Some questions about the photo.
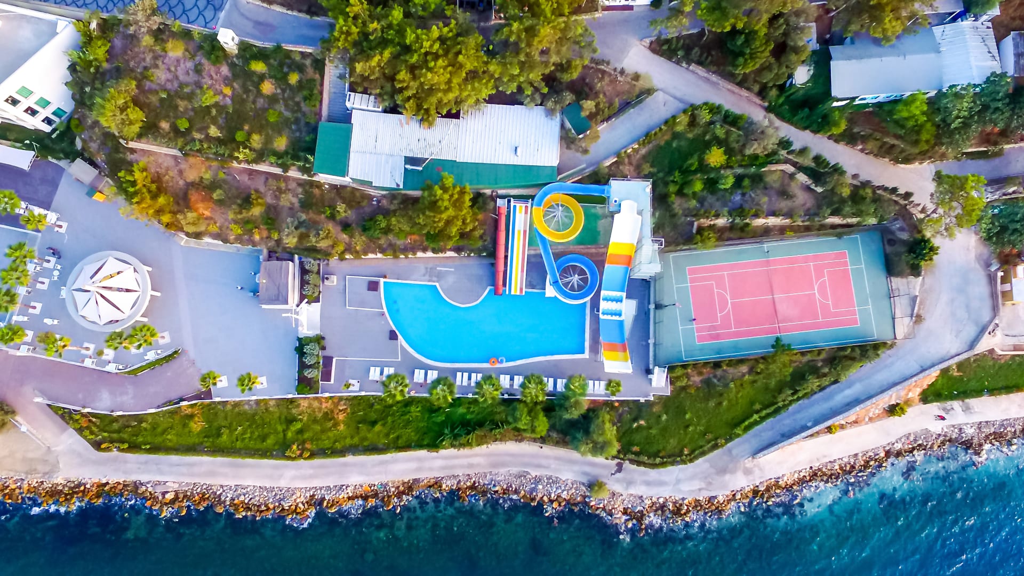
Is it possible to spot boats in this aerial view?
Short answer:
No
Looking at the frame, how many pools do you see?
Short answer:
1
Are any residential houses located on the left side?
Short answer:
Yes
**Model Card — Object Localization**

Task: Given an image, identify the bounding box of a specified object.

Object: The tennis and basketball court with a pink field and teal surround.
[657,231,894,366]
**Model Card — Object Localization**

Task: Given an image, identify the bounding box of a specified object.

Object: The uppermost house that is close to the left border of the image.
[0,3,101,135]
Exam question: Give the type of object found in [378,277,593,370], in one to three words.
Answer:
swimming pool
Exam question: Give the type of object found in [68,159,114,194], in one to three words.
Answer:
shed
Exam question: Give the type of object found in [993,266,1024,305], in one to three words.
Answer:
house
